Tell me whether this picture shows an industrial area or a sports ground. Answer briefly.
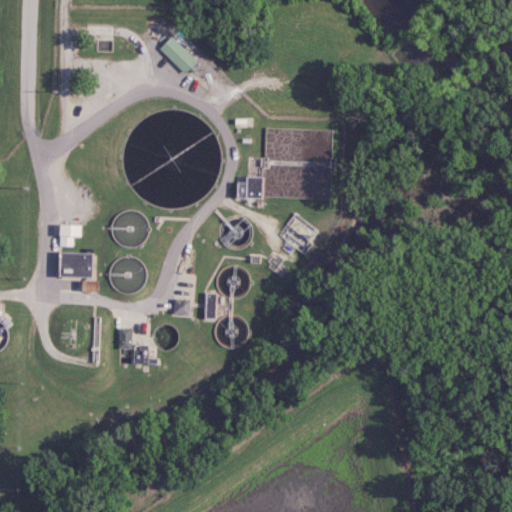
industrial area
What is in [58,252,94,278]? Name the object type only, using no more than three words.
building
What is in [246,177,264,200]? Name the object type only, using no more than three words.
building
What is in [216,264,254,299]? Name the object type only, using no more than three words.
storage tank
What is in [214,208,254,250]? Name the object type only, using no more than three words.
storage tank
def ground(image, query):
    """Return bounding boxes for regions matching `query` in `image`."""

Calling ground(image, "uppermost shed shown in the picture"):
[160,37,196,72]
